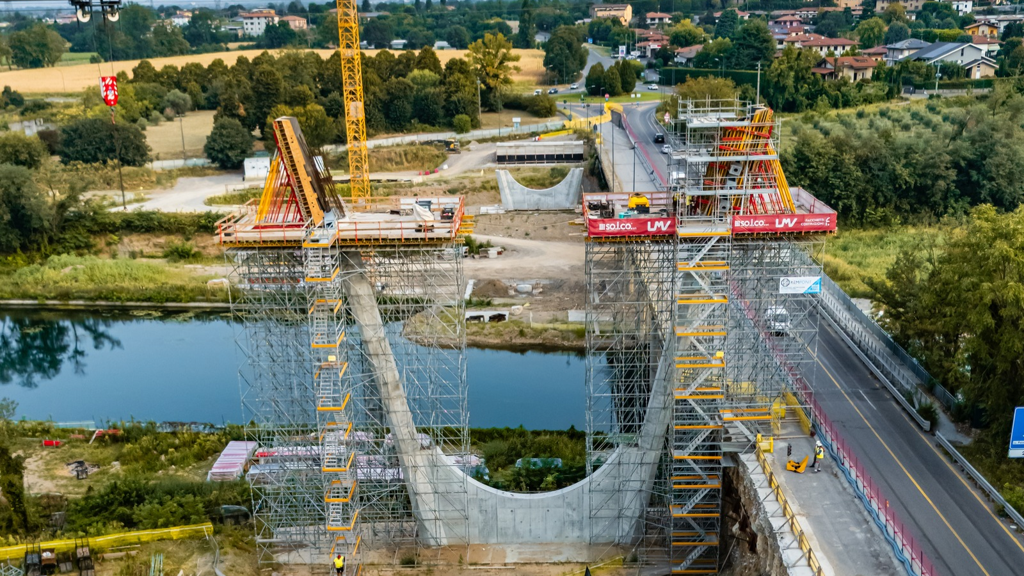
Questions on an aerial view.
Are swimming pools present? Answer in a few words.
No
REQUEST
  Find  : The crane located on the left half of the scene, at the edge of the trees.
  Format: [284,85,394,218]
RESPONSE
[339,0,394,304]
